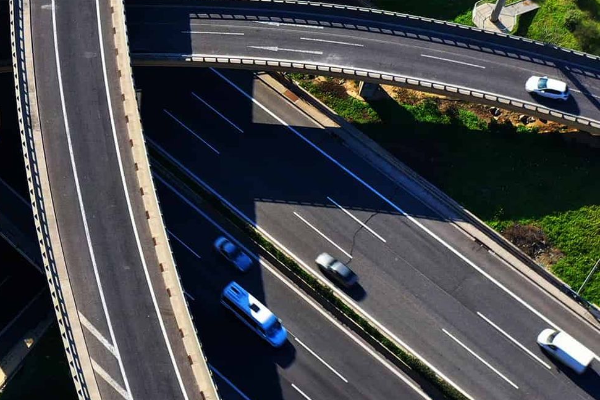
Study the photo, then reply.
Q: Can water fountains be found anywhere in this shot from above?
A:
No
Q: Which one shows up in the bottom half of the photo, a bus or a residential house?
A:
bus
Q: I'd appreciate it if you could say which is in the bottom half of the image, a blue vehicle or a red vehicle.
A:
blue vehicle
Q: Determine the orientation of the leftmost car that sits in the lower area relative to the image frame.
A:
diagonally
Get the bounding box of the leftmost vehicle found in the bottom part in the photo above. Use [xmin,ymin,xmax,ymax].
[210,234,257,276]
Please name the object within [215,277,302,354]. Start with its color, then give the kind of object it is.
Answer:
blue bus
